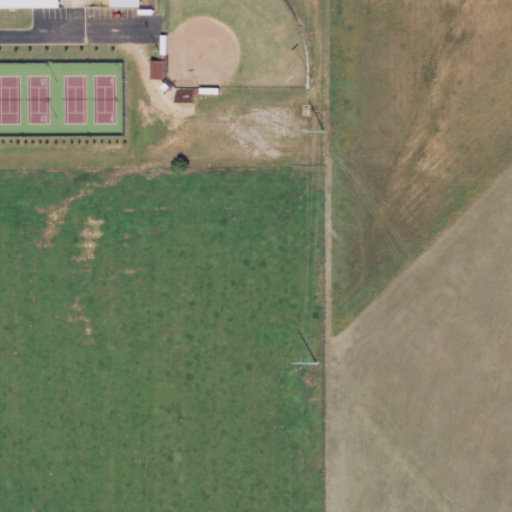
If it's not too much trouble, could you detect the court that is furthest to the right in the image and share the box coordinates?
[91,76,116,124]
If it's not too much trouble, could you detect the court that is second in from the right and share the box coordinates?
[62,76,87,124]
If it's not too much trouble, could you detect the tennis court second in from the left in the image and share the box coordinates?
[24,76,50,124]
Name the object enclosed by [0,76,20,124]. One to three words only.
tennis court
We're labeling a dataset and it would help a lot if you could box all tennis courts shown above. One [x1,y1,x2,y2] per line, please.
[91,76,116,124]
[24,76,50,124]
[62,76,87,124]
[0,76,20,124]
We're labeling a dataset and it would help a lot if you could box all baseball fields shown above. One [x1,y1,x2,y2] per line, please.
[167,0,310,88]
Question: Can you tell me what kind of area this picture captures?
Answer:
farmland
